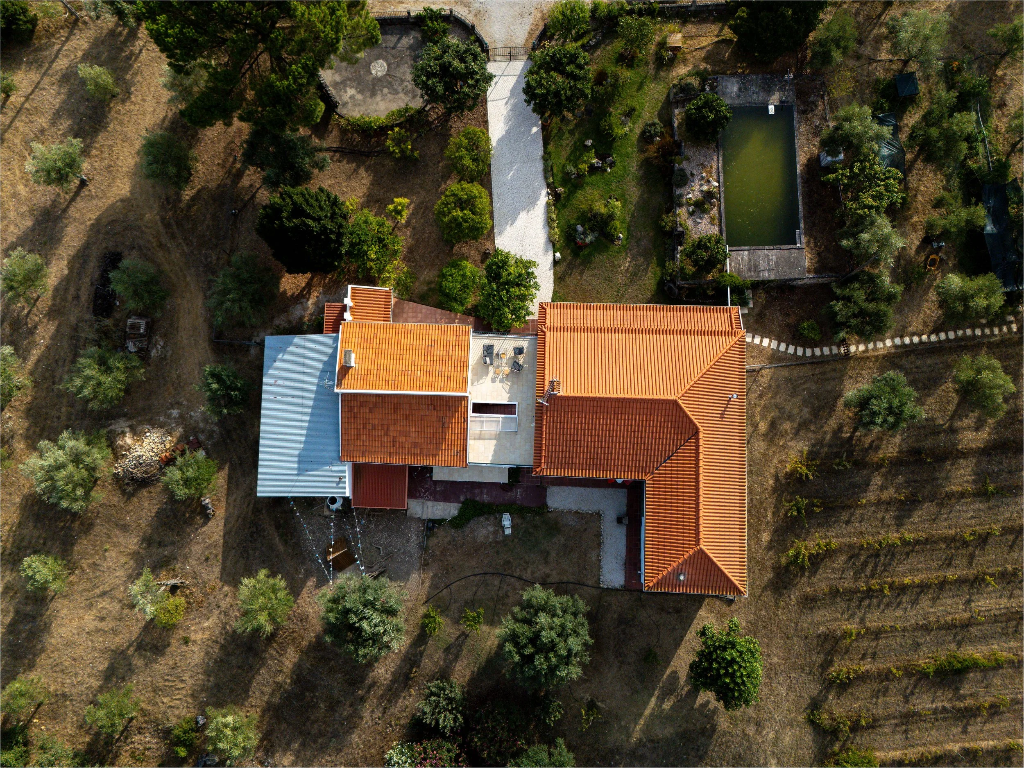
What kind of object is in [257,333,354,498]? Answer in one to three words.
shed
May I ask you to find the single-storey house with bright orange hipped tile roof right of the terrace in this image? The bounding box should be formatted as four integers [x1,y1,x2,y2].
[533,301,750,603]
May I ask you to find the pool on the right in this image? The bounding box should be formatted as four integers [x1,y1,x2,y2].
[715,76,806,283]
